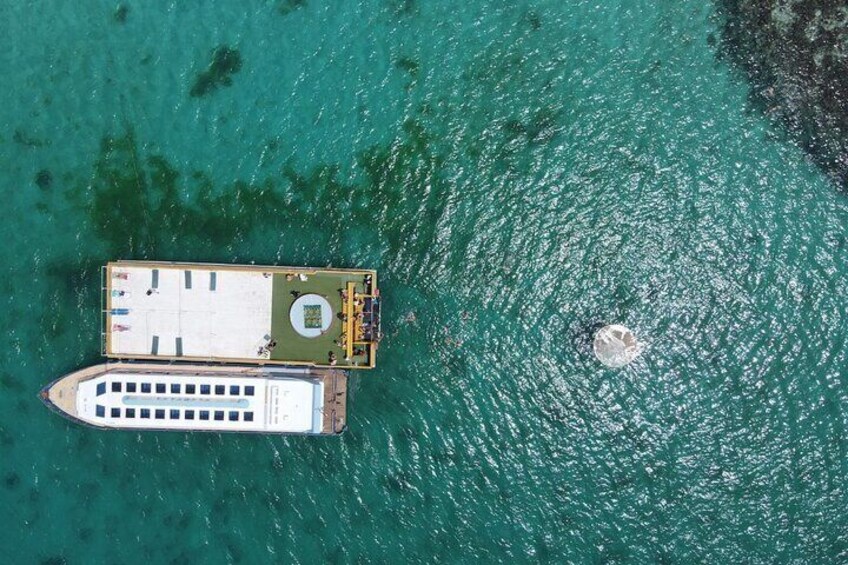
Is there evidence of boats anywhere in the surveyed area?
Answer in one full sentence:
Yes, a boat is visible in the scene.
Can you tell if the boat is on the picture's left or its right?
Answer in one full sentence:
The boat sits on the left side.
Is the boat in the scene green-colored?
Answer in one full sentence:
No, from above the boat looks white.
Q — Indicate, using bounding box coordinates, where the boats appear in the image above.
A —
[37,363,349,435]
